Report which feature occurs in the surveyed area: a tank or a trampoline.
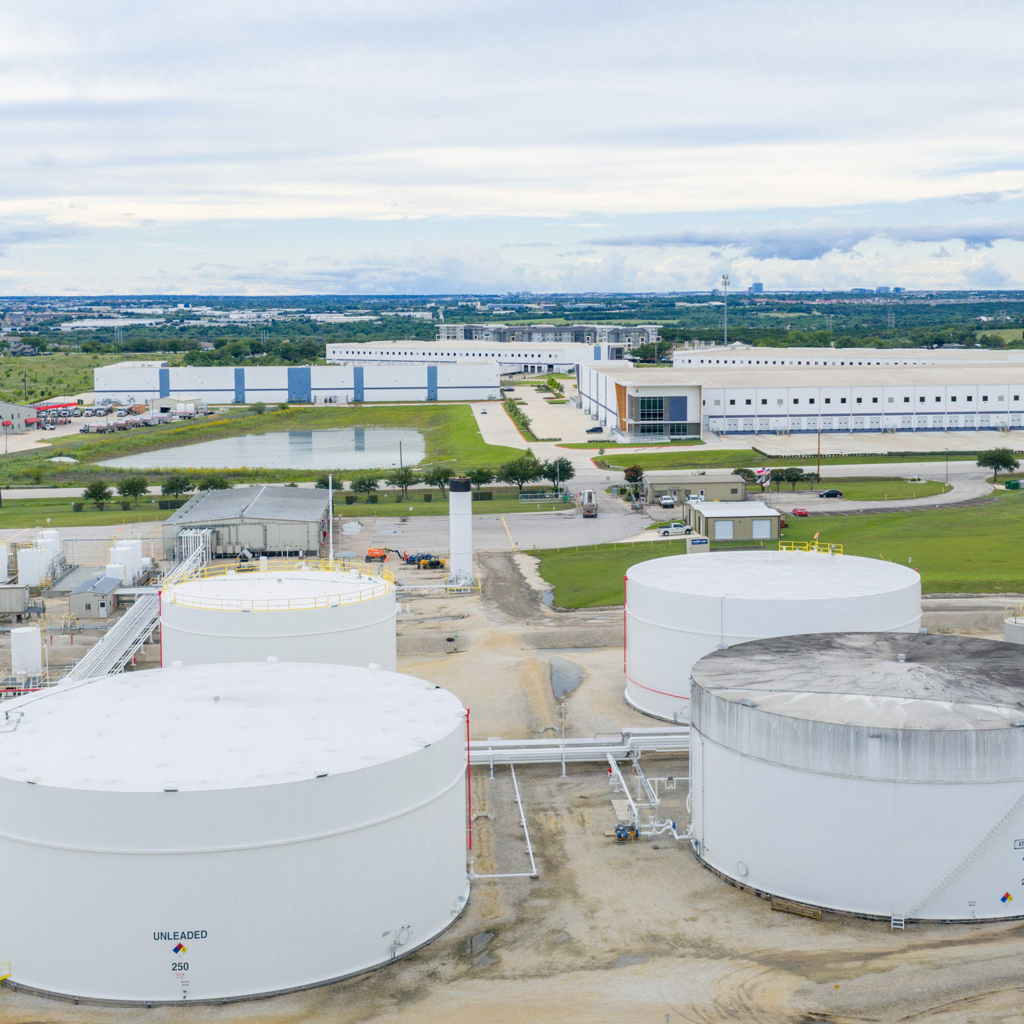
tank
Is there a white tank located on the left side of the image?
Yes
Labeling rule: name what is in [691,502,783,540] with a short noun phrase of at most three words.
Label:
building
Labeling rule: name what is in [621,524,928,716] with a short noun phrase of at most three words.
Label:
storage tank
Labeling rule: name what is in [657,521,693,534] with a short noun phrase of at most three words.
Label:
vehicle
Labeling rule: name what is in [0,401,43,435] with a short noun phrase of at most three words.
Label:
building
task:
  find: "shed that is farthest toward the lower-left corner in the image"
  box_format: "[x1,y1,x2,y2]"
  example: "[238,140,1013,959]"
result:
[67,571,124,618]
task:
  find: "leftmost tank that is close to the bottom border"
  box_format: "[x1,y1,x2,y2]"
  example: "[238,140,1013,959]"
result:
[0,657,474,1009]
